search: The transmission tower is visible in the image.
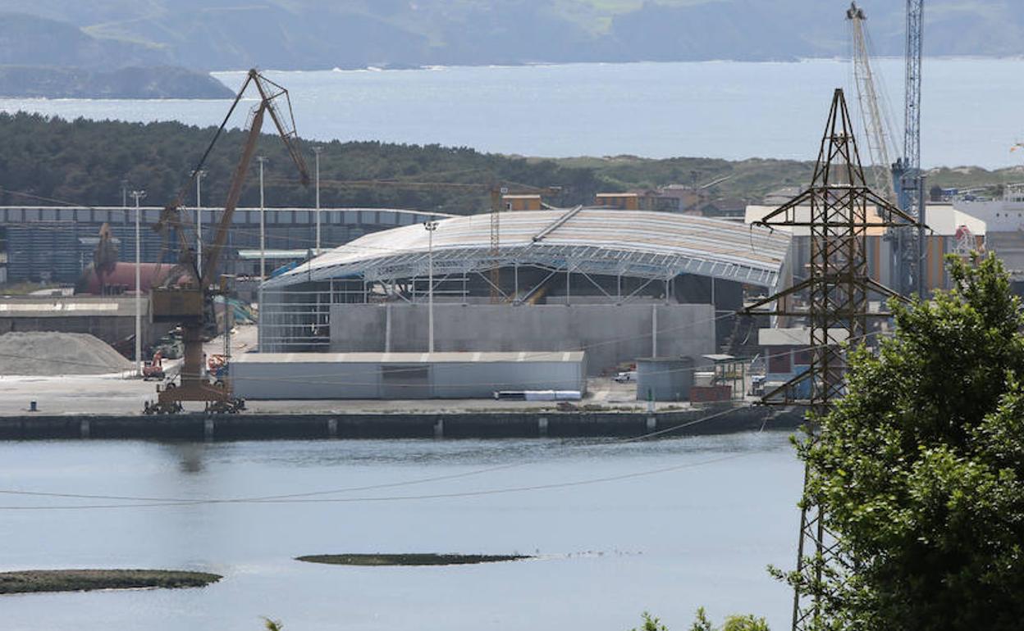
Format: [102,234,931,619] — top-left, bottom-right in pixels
[721,87,949,631]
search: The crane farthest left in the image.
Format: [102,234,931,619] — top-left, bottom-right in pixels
[142,69,312,412]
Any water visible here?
Yes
